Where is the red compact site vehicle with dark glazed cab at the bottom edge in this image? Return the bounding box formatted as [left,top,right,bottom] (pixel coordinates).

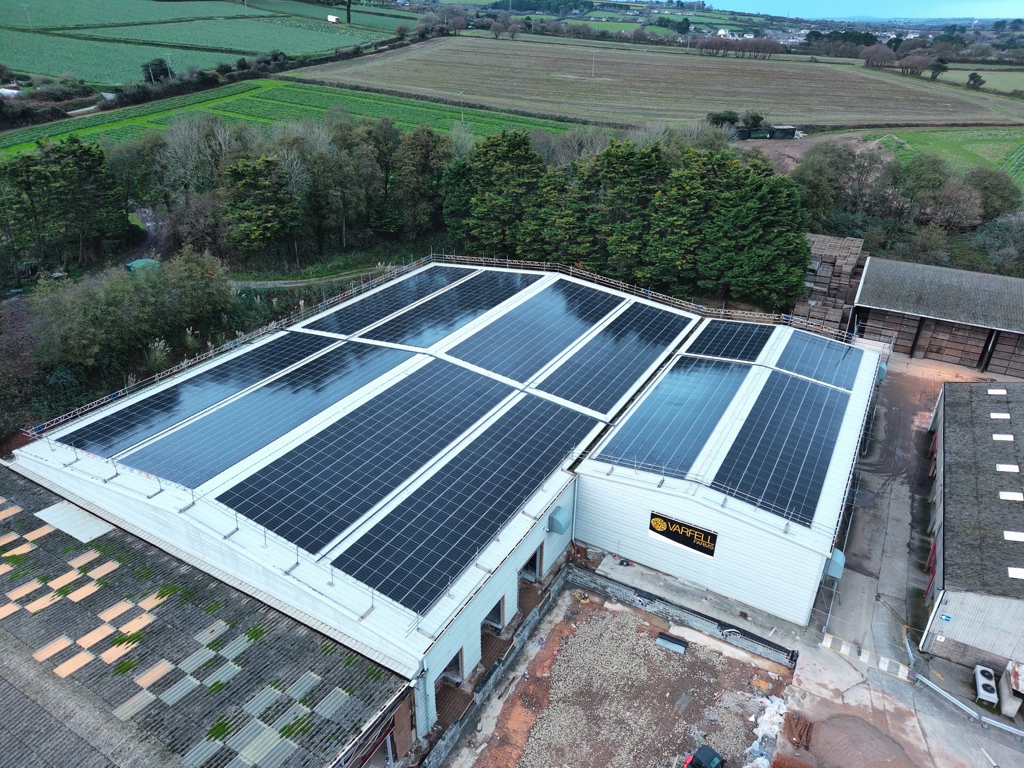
[686,746,730,768]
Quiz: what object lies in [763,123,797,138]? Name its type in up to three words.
shed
